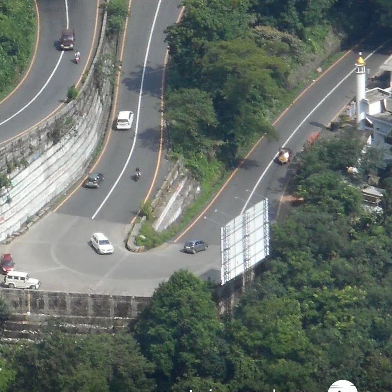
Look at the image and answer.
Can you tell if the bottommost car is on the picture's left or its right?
left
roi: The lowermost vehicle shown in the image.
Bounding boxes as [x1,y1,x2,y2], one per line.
[1,265,42,289]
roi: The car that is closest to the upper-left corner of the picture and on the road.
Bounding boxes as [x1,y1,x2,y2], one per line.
[59,24,76,48]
